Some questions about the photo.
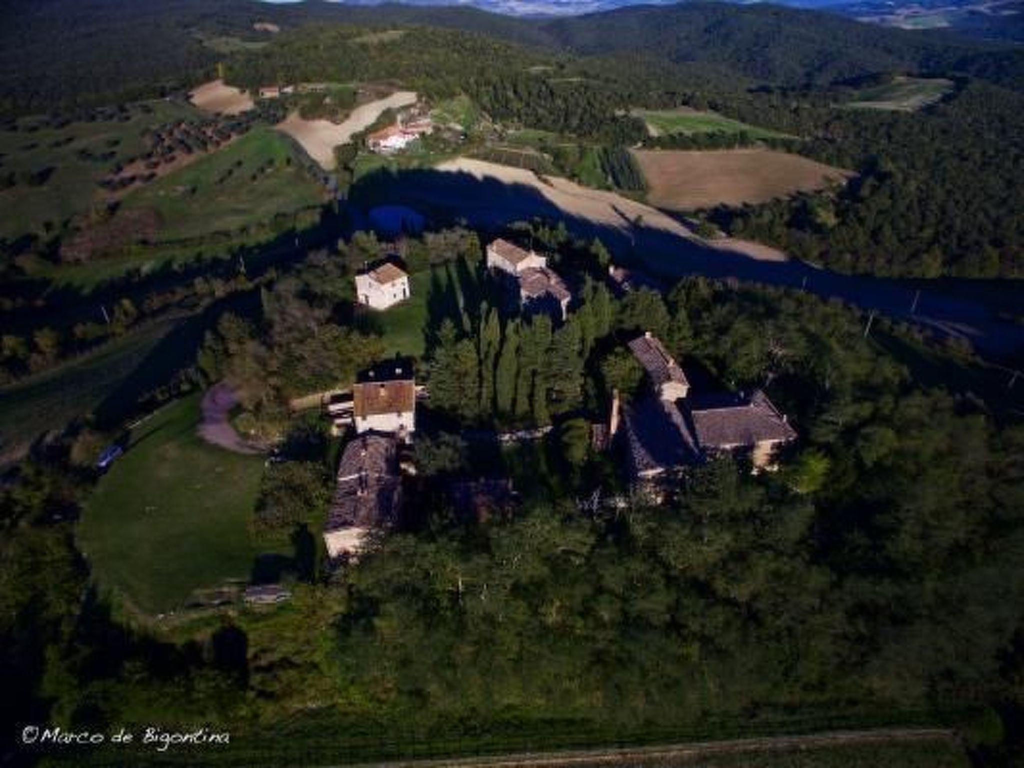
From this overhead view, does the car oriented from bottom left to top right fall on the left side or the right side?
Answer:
left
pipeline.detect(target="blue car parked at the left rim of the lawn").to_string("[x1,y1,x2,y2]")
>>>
[93,448,125,469]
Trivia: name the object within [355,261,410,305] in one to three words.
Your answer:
house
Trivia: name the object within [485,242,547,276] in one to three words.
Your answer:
house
